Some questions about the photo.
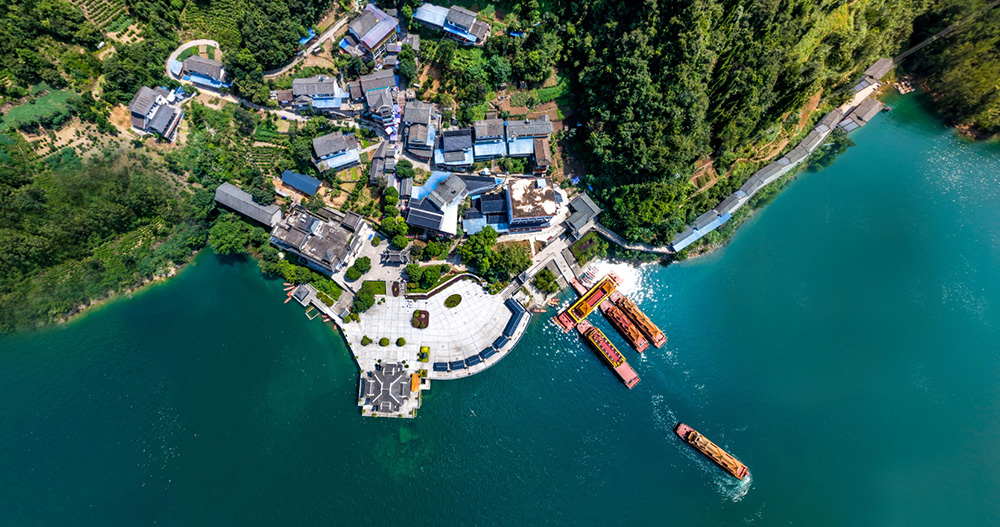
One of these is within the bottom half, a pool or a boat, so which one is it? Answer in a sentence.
What appears within the bottom half is a boat.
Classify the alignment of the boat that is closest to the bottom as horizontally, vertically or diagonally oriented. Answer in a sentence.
The boat that is closest to the bottom is oriented diagonally.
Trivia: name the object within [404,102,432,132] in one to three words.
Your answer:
house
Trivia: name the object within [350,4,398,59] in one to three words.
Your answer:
building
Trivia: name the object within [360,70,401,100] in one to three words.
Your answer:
house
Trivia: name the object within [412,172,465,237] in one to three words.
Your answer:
building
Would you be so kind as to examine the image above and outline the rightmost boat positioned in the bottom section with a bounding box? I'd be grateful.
[674,426,749,480]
